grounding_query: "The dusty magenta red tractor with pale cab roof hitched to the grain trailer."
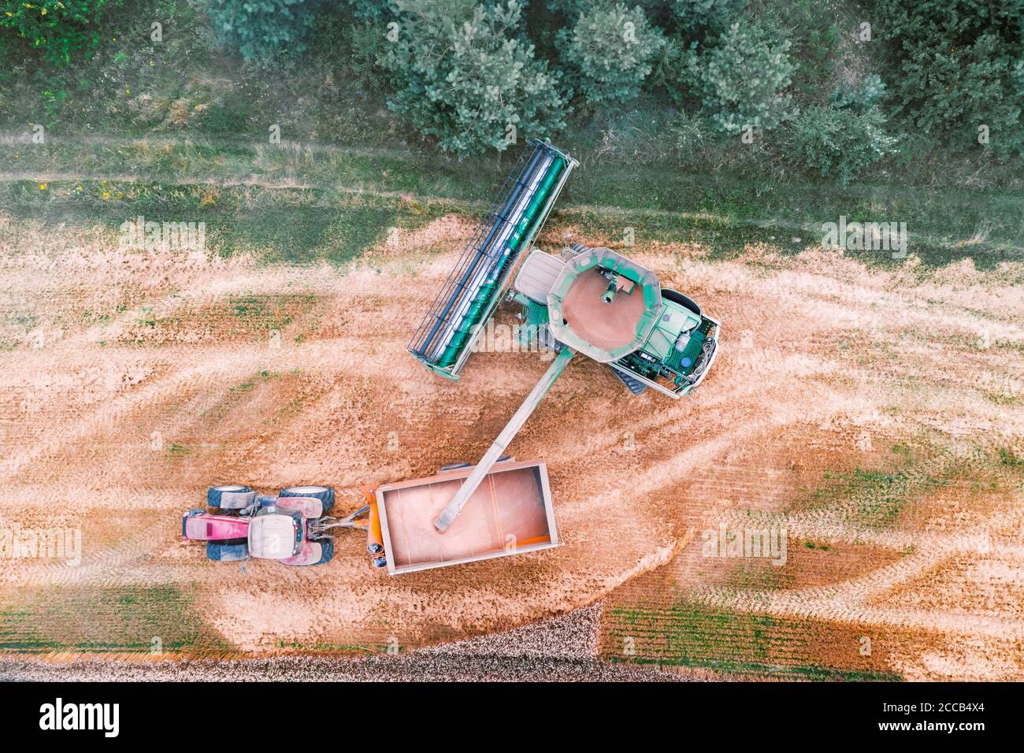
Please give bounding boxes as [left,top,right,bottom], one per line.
[178,485,344,571]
